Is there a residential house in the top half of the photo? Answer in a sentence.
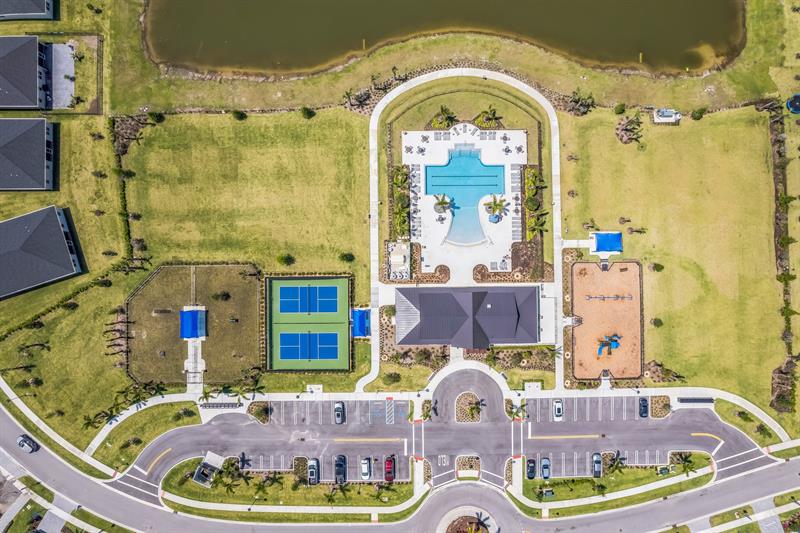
Yes, a residential house appears in the top half of the photo.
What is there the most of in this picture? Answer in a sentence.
Most of the picture is covered by grass.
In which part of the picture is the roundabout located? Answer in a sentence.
The roundabout sits in the bottom section of the image.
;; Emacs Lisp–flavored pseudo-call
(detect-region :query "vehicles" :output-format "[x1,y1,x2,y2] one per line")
[526,457,536,478]
[334,401,345,423]
[19,433,39,453]
[637,396,648,417]
[552,399,562,420]
[591,452,602,478]
[309,460,319,481]
[361,457,370,478]
[336,456,346,481]
[384,456,395,479]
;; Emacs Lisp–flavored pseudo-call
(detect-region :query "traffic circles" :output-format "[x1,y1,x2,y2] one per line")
[411,481,523,533]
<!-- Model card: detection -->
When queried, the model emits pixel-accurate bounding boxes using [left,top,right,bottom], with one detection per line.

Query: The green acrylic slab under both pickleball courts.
[269,277,348,370]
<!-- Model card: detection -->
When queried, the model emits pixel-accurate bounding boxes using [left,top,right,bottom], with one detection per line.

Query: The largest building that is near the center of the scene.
[395,287,538,350]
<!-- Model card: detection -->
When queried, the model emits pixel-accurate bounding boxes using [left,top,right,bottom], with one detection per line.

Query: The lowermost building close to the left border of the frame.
[0,206,80,298]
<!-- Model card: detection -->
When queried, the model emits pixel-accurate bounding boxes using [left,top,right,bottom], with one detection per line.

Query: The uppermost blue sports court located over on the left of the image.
[280,284,338,314]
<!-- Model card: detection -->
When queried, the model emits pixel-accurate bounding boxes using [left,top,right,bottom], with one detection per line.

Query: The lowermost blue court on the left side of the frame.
[280,331,338,362]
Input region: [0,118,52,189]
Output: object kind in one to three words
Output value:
house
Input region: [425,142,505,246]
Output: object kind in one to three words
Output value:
swimming pool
